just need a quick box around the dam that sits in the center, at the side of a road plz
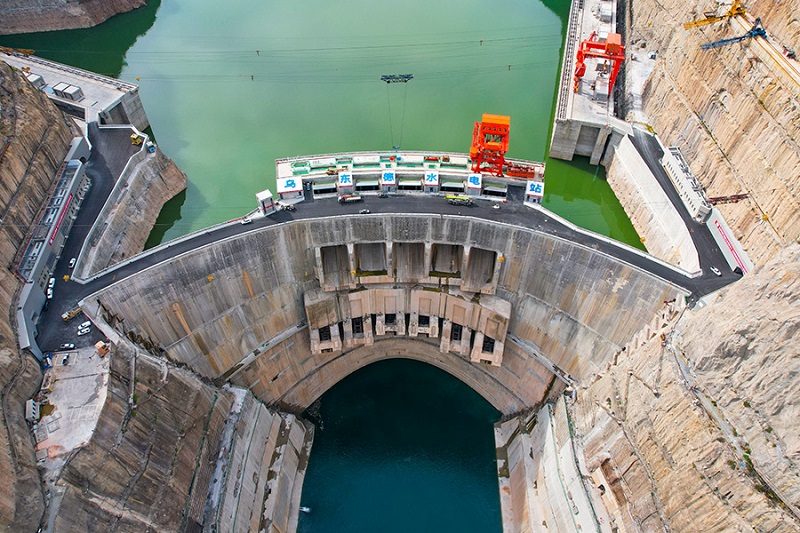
[66,149,709,419]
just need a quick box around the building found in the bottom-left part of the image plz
[16,400,41,425]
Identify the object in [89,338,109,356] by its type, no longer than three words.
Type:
work vehicle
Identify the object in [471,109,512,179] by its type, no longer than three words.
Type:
container crane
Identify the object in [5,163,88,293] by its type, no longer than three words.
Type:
building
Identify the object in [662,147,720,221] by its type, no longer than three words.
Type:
building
